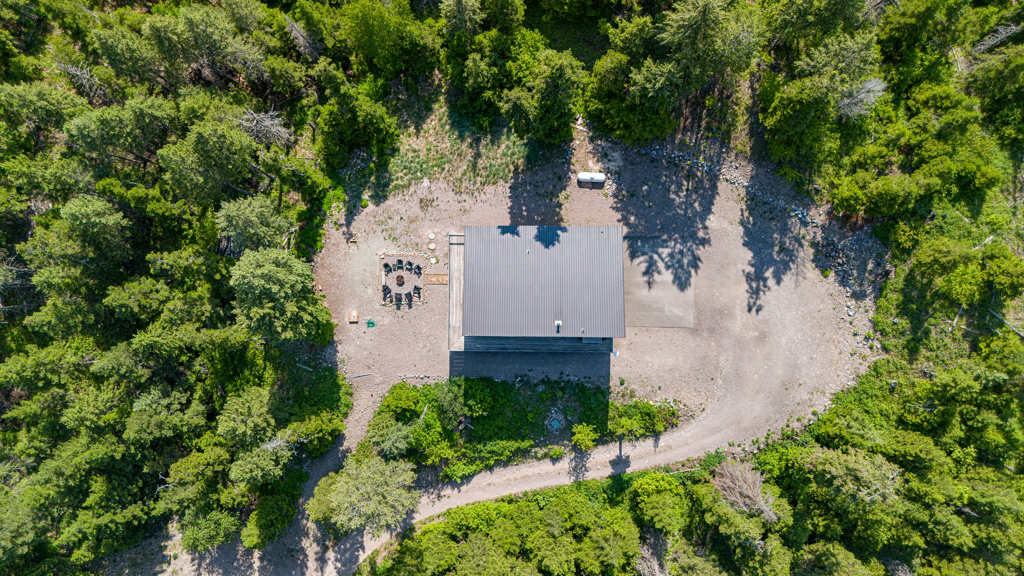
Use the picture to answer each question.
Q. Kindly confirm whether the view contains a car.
No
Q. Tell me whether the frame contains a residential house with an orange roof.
No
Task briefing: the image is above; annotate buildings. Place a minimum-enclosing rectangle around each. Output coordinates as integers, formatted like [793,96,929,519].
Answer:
[463,225,626,338]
